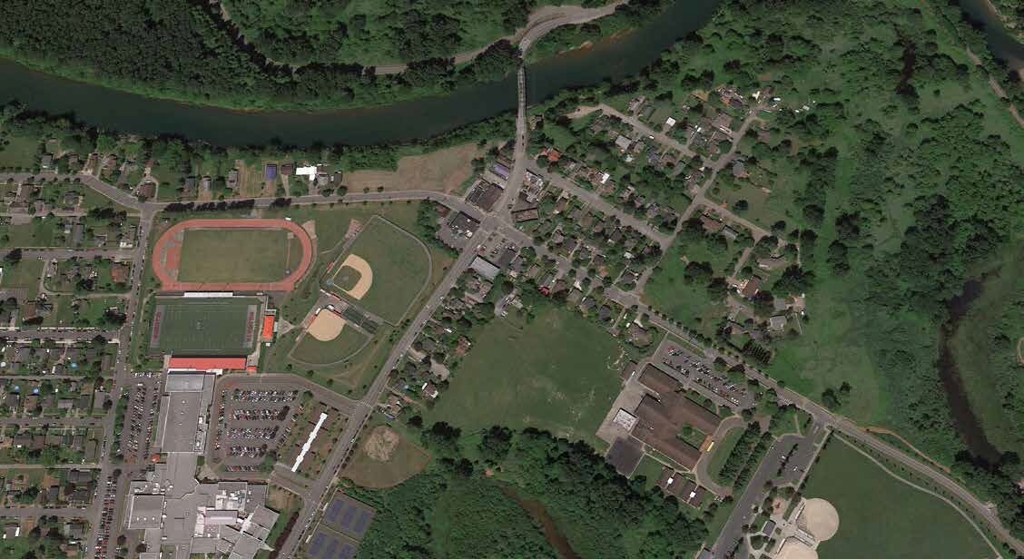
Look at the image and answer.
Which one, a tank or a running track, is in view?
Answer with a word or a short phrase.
running track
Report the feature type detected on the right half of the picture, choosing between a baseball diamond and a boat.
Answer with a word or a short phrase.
baseball diamond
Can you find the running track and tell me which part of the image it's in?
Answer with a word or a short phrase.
left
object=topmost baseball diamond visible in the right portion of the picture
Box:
[797,499,839,541]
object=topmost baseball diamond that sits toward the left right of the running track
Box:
[319,216,432,327]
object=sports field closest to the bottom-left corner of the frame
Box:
[146,297,259,355]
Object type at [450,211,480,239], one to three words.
building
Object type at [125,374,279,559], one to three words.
building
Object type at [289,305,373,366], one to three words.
baseball field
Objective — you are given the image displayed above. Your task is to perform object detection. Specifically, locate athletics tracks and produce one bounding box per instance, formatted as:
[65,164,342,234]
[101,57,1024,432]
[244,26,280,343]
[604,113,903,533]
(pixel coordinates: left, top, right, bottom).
[152,217,312,290]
